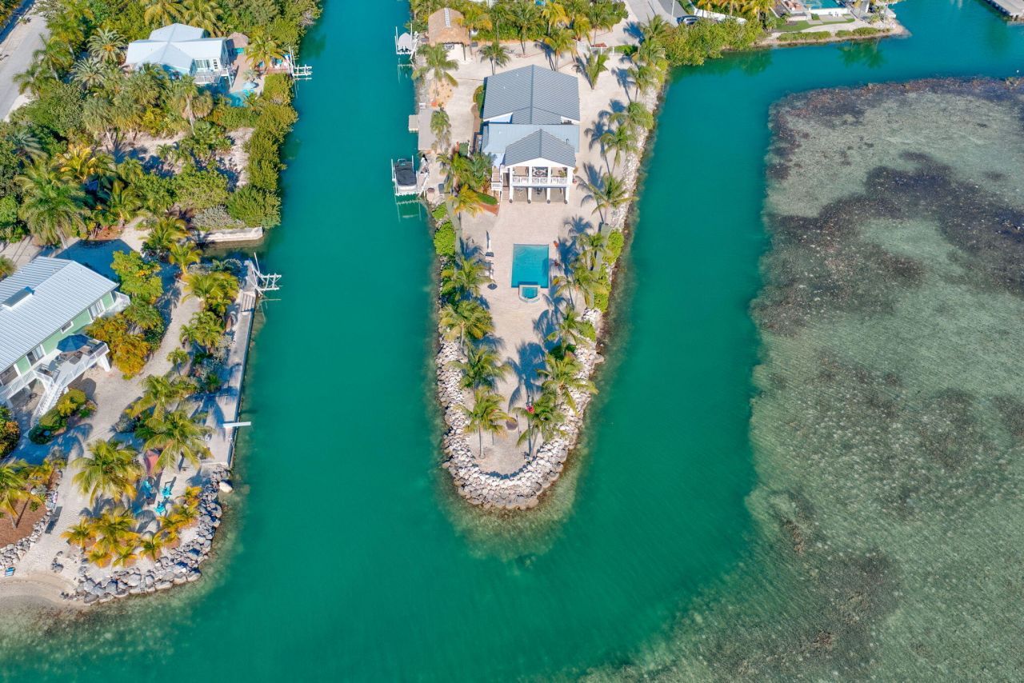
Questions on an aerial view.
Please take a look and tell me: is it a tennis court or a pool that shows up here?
pool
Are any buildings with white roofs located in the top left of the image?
Yes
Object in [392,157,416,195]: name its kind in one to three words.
boat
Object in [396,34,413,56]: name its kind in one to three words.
boat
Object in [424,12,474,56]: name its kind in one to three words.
shed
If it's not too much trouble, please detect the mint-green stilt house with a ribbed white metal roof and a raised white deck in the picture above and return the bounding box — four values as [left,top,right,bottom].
[0,261,133,428]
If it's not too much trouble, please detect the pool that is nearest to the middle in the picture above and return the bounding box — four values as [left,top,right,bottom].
[508,242,552,299]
